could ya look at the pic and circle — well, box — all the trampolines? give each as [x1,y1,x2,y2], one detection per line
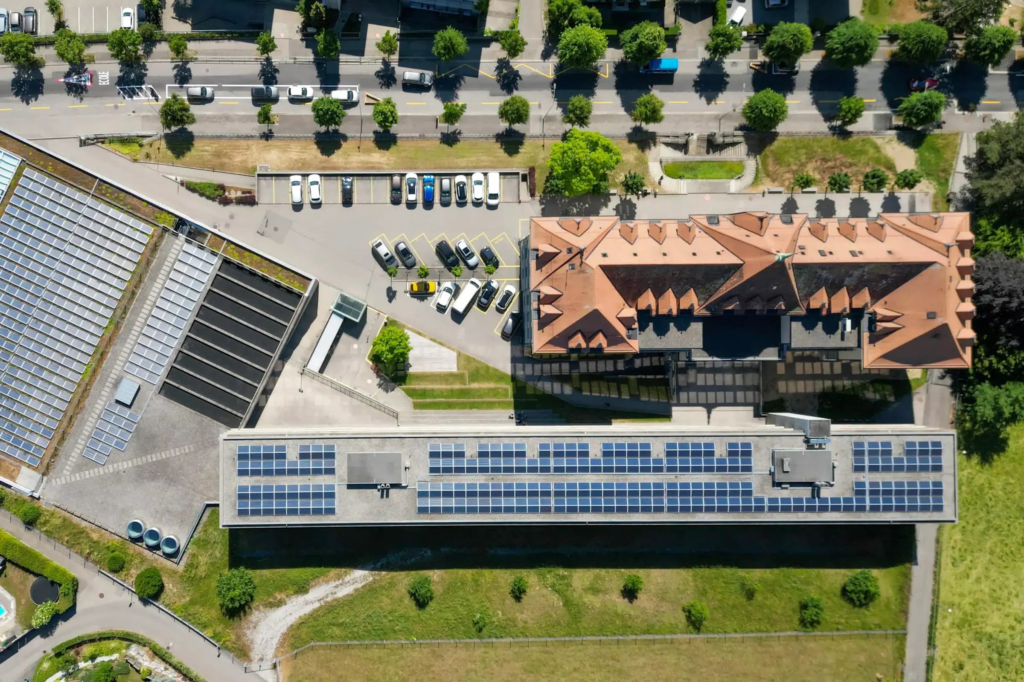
[30,577,60,606]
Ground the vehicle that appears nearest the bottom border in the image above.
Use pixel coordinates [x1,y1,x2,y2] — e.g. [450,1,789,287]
[501,311,522,341]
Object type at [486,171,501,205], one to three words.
vehicle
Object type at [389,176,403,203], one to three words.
car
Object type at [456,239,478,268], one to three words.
car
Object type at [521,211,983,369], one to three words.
building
